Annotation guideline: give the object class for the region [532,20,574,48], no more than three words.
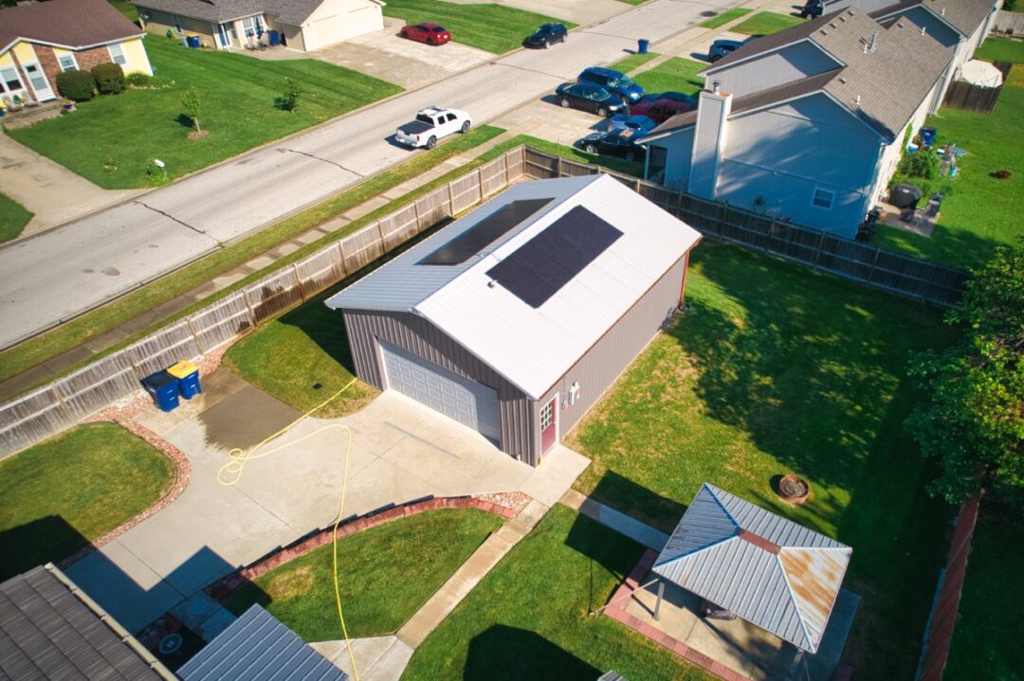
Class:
car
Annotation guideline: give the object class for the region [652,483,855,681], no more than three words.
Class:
gazebo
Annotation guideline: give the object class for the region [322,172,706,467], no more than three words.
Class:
building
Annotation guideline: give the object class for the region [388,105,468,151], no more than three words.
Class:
truck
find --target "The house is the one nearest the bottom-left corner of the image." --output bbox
[0,558,178,681]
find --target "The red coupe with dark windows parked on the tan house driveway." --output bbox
[403,19,449,42]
